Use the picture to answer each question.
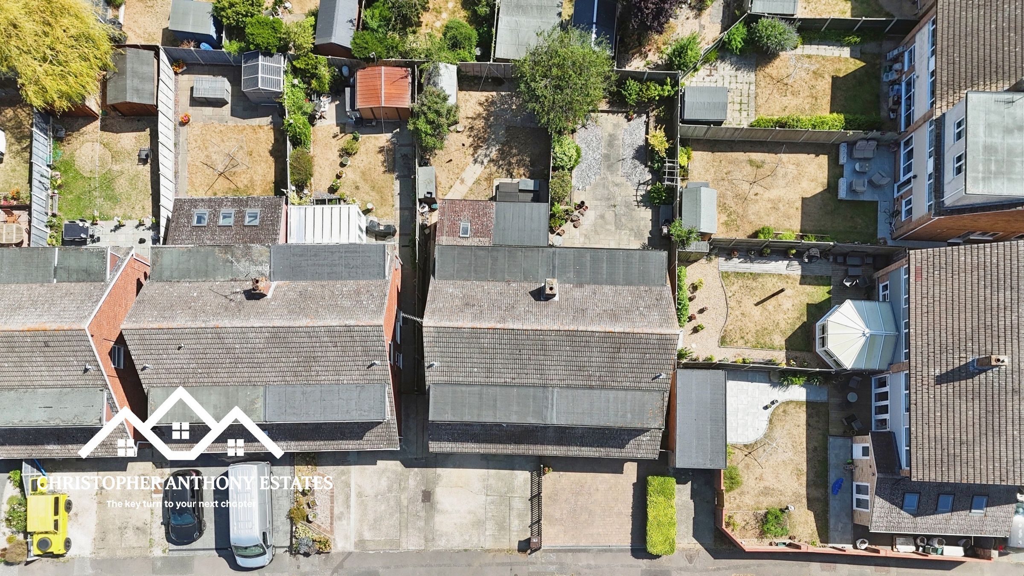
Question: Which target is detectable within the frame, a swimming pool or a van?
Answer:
van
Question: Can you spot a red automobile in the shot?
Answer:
No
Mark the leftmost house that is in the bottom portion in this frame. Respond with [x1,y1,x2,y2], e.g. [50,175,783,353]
[0,241,153,453]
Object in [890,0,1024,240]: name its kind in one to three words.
house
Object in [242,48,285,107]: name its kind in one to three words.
building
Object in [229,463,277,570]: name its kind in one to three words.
van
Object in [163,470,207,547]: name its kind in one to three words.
car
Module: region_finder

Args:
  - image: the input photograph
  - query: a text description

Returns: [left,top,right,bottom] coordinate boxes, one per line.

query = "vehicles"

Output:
[1000,483,1024,557]
[163,470,207,547]
[27,480,76,559]
[229,463,277,570]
